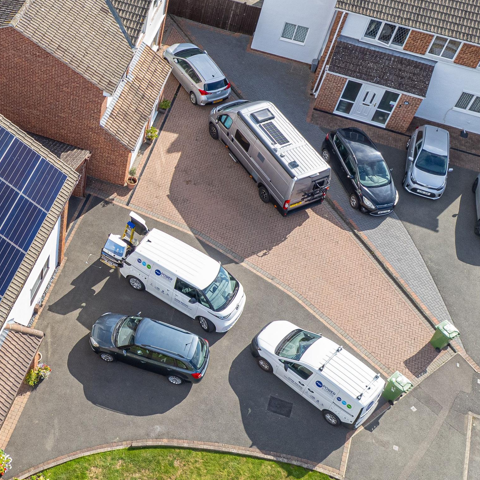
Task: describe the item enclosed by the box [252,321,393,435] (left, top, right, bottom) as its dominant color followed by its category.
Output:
white van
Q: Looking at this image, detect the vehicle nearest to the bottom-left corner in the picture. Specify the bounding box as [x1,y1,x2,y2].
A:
[88,309,209,385]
